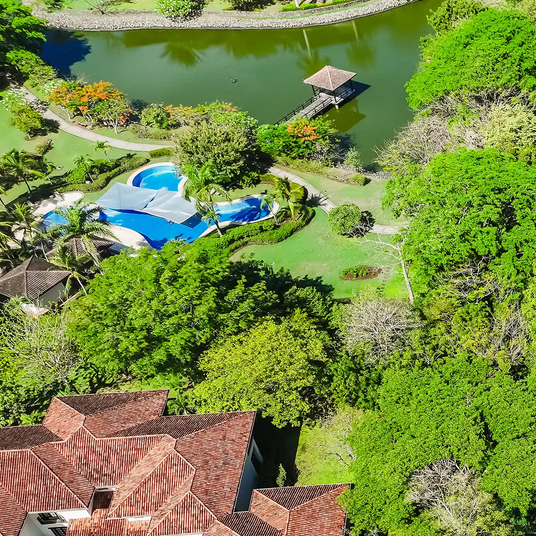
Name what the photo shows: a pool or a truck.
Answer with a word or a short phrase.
pool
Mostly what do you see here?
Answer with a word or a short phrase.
trees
